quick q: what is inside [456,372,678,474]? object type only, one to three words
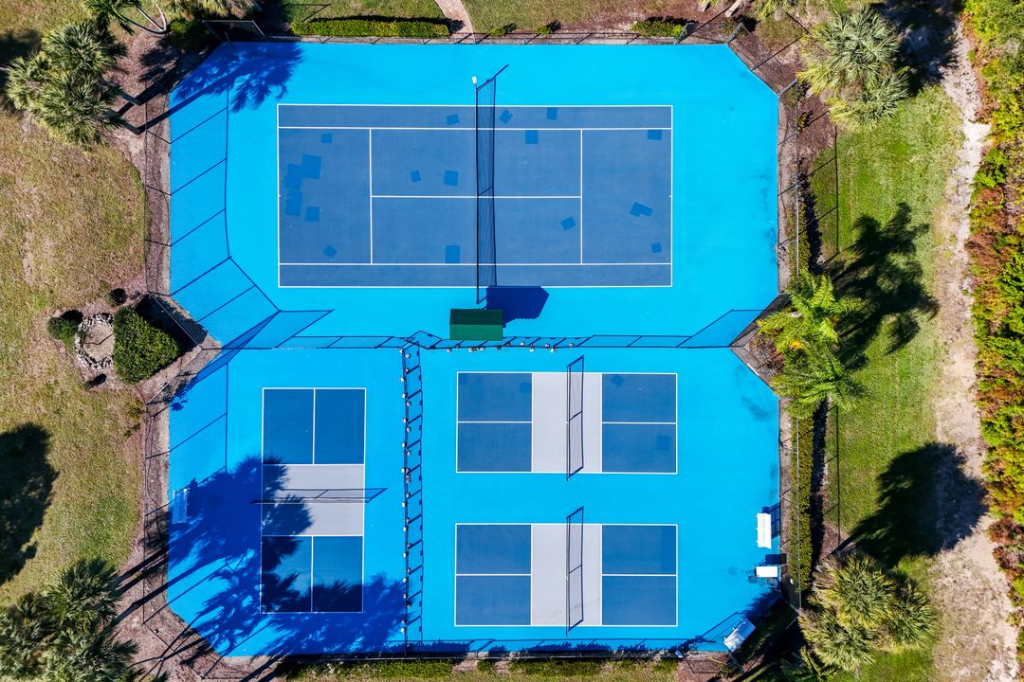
sports court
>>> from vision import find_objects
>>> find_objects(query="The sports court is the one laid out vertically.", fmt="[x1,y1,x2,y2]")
[260,388,365,613]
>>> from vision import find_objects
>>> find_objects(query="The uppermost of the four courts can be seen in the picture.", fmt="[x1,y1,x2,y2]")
[277,103,673,287]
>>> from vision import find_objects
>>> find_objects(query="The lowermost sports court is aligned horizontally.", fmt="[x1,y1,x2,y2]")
[455,524,678,627]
